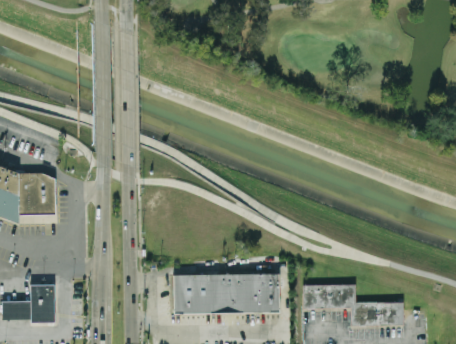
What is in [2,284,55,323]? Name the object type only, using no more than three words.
building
